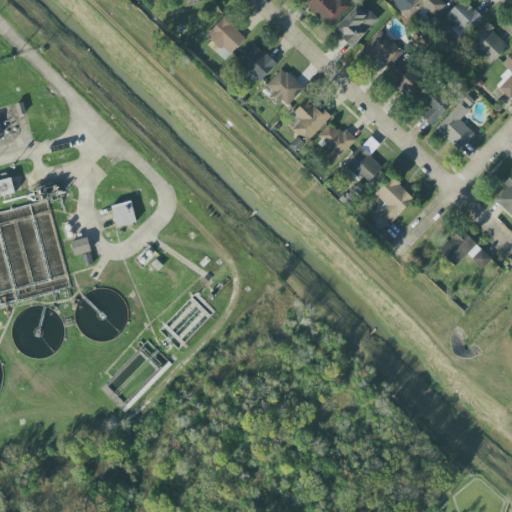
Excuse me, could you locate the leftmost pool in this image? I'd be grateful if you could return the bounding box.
[386,16,410,44]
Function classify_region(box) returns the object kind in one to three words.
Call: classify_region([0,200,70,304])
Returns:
water tank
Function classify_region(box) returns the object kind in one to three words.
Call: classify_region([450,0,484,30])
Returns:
house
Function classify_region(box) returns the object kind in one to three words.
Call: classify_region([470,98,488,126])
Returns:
swimming pool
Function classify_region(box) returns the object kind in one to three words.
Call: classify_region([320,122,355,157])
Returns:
house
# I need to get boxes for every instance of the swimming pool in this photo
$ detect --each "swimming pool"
[386,16,410,44]
[470,98,488,126]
